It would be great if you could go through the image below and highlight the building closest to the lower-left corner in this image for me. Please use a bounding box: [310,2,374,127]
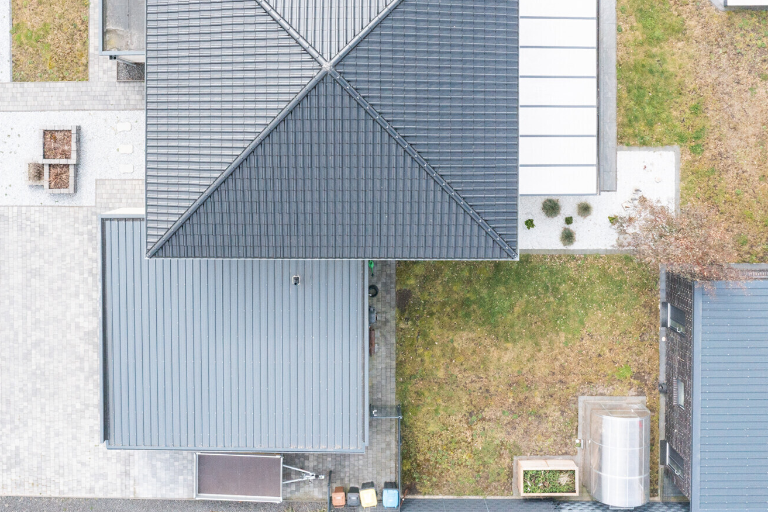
[100,211,369,453]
